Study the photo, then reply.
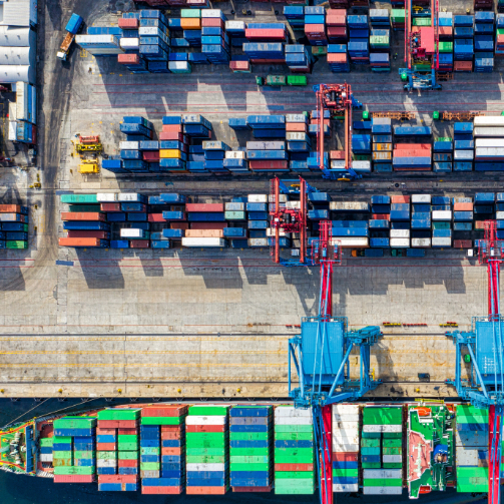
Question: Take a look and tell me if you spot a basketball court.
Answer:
No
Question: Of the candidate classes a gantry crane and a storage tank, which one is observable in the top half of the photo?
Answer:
gantry crane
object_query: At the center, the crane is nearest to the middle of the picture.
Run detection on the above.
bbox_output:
[268,179,320,268]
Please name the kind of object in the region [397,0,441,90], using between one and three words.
container crane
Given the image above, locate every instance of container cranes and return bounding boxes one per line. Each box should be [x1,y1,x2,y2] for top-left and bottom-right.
[268,179,320,268]
[397,0,441,90]
[282,219,383,504]
[313,84,362,182]
[444,219,504,504]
